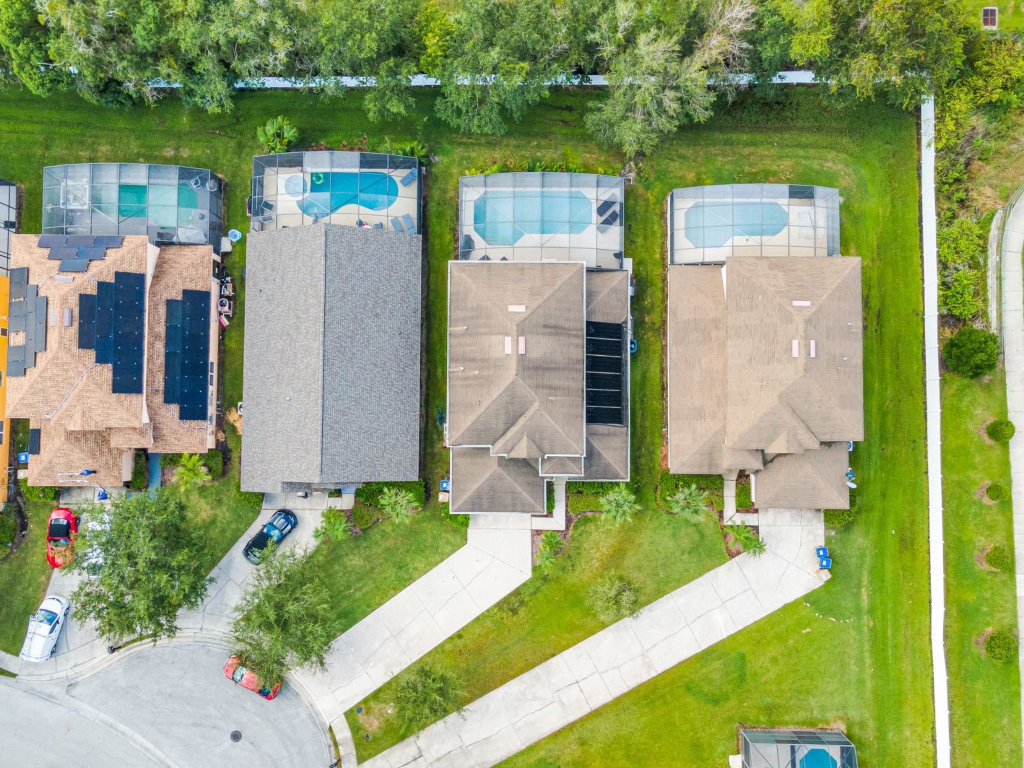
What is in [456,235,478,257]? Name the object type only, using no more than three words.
umbrella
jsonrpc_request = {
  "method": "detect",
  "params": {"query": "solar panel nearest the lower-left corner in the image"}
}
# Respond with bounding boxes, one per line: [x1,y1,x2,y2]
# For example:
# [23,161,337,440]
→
[28,429,40,454]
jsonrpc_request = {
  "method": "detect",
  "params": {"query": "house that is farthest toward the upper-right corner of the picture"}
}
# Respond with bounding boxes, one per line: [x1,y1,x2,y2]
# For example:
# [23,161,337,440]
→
[667,255,864,509]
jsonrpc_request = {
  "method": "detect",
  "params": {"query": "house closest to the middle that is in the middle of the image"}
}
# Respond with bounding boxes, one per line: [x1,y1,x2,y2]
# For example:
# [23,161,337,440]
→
[446,260,631,514]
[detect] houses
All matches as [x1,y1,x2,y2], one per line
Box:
[446,260,631,514]
[667,255,864,509]
[5,233,221,487]
[240,224,422,493]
